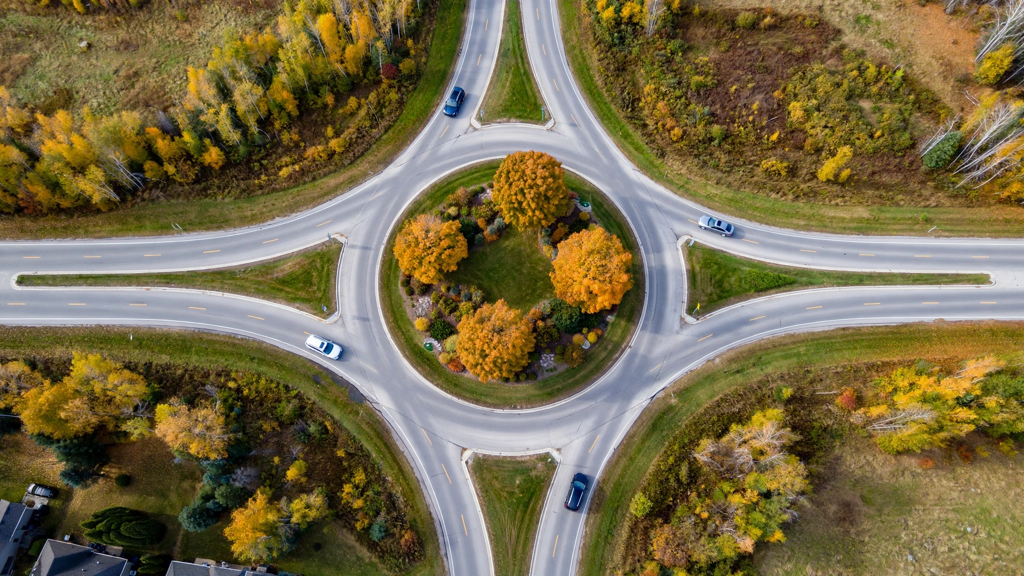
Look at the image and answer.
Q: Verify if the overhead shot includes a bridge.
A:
No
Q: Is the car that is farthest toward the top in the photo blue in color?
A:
Yes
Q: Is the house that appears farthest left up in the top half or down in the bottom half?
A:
bottom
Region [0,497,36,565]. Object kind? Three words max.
house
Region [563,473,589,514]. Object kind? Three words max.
car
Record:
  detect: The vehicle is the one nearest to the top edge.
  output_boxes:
[443,88,466,119]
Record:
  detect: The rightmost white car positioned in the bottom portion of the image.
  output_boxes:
[304,334,343,360]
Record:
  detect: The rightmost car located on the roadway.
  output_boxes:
[697,217,735,239]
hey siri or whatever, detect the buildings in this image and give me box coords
[31,538,134,576]
[0,497,36,565]
[167,560,280,576]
